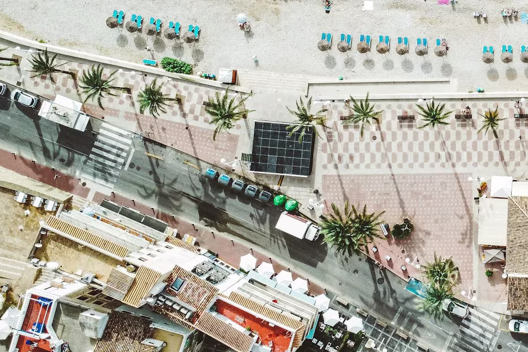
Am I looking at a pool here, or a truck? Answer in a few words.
truck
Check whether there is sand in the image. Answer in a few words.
Yes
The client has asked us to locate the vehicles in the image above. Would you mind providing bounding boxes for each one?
[509,318,528,333]
[0,81,10,95]
[277,207,322,239]
[13,90,40,108]
[444,298,470,318]
[37,91,91,128]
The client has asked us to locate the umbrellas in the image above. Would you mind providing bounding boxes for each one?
[396,42,409,55]
[276,268,291,285]
[482,51,494,63]
[107,16,119,29]
[434,44,447,57]
[0,320,12,339]
[126,20,138,33]
[291,276,307,293]
[318,39,331,52]
[376,41,389,54]
[415,43,428,56]
[314,294,329,312]
[364,335,375,348]
[164,27,176,40]
[239,254,257,271]
[501,51,513,63]
[322,309,340,326]
[345,316,363,334]
[357,40,370,53]
[184,31,196,43]
[258,262,274,278]
[237,13,247,23]
[145,23,157,36]
[337,40,350,53]
[1,308,21,327]
[520,51,528,63]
